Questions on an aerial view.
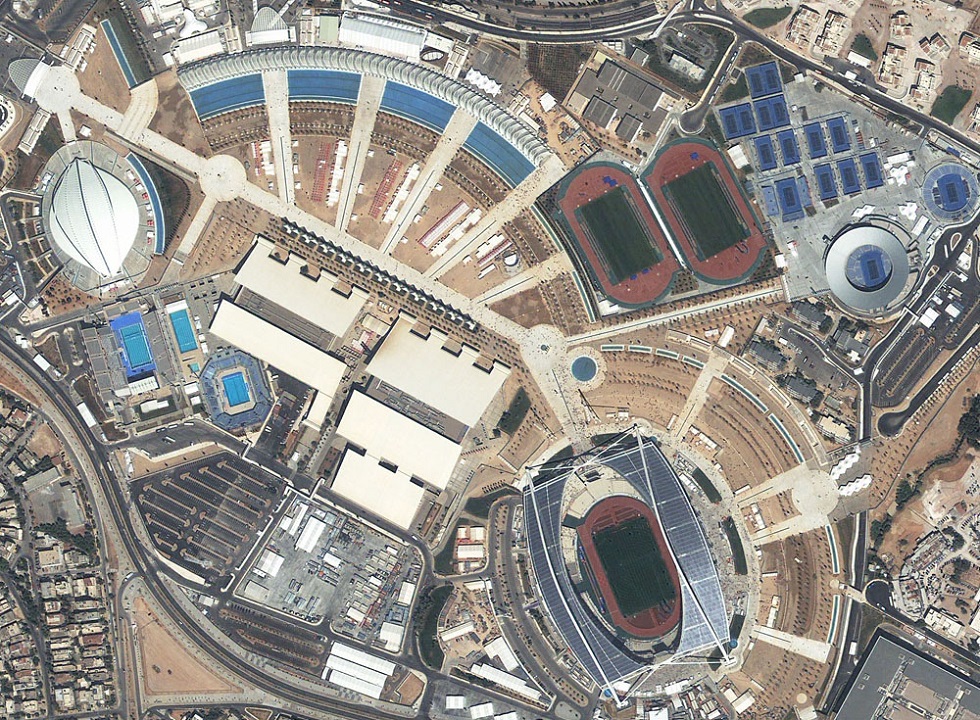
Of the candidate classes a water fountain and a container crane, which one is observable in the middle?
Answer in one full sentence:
There is a water fountain in the middle.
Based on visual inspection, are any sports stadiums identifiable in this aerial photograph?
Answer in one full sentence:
Yes, the frame does contain a sports stadium.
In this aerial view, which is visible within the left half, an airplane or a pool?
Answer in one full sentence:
The feature located within the left half is a pool.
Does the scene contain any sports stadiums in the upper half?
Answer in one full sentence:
Yes, in the upper half there is a sports stadium.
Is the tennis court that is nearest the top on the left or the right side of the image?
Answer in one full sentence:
It is on the right.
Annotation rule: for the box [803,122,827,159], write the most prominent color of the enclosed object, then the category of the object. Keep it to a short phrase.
blue tennis court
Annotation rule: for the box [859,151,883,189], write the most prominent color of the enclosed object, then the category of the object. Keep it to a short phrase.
blue tennis court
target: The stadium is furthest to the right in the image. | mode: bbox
[922,163,980,221]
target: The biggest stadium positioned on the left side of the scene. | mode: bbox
[199,350,273,431]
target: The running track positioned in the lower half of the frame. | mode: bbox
[580,496,682,640]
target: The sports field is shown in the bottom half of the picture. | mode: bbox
[590,517,674,618]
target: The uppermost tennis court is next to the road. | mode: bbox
[746,60,782,99]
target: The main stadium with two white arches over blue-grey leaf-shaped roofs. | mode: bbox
[522,419,734,709]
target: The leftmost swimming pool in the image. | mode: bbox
[110,312,155,377]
